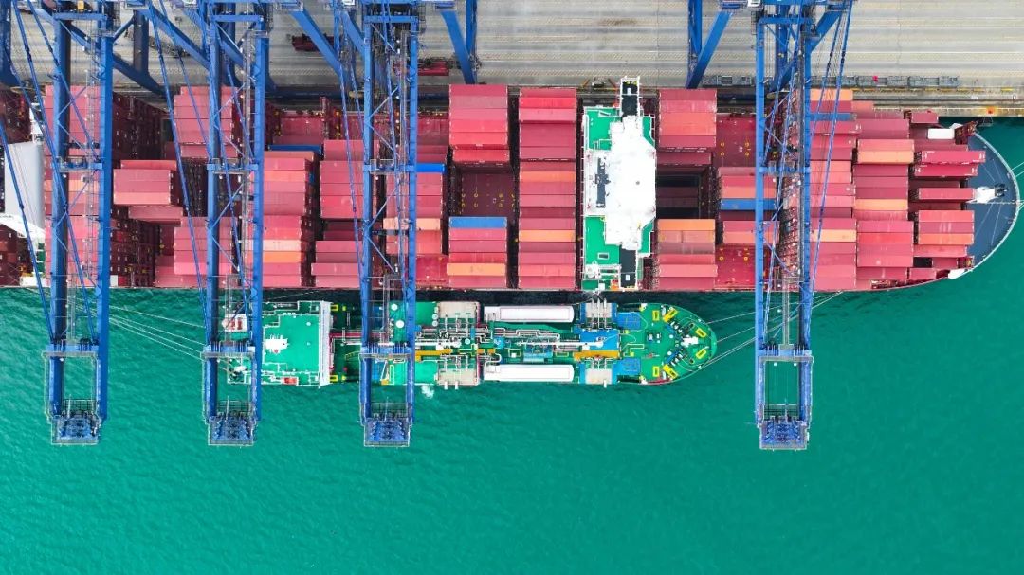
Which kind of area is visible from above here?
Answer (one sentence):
The picture captures a port.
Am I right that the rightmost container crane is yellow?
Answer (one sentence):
No, the rightmost container crane is actually blue.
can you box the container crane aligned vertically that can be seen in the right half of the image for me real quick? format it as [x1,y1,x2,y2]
[682,0,856,449]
